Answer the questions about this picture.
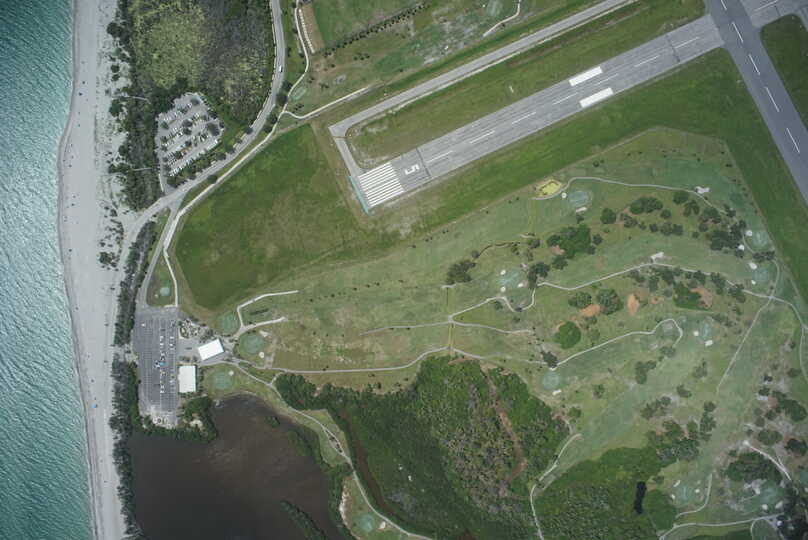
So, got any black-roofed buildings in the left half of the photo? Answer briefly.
No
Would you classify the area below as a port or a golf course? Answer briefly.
golf course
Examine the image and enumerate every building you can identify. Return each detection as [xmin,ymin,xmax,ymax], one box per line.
[178,366,196,392]
[198,339,223,360]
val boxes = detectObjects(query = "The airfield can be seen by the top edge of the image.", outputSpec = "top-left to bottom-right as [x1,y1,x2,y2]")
[329,0,808,214]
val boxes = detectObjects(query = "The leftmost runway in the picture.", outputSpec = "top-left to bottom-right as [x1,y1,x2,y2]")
[347,15,724,214]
